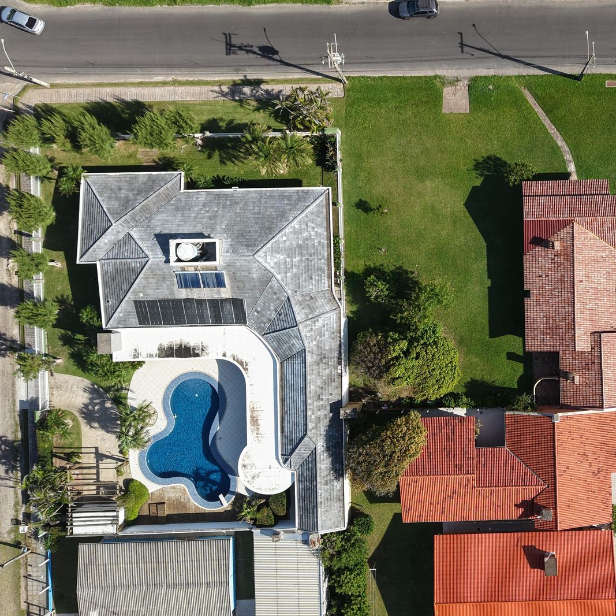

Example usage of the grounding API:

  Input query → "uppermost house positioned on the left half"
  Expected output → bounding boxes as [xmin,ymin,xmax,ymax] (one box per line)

[77,171,351,536]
